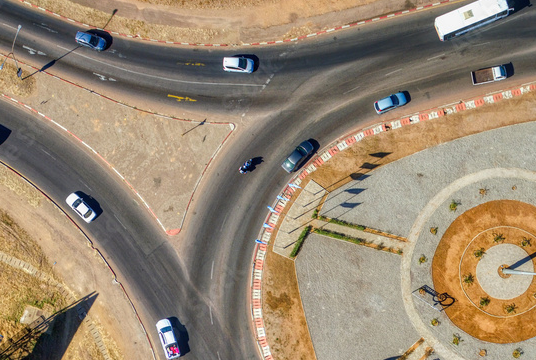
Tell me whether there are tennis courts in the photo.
No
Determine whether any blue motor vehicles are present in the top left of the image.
Yes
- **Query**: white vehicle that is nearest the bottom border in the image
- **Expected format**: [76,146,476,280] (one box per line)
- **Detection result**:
[155,319,181,360]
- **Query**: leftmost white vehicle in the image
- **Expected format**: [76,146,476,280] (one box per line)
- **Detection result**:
[62,189,99,225]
